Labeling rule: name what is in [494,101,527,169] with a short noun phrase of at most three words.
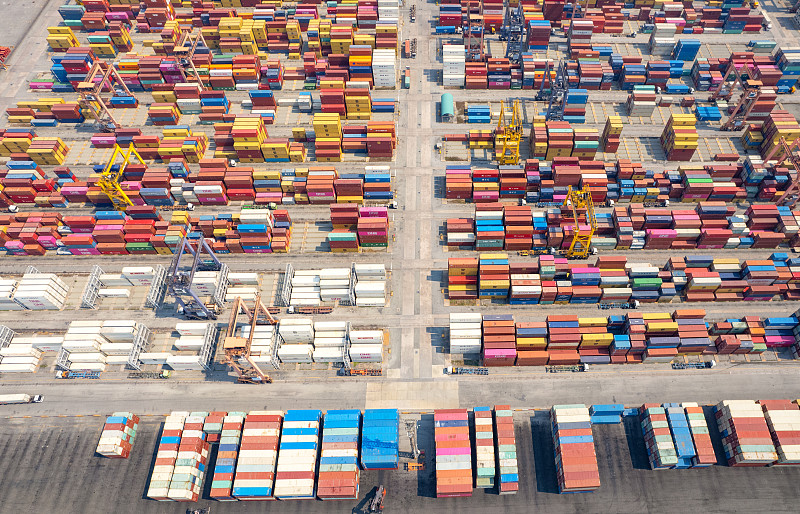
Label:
container crane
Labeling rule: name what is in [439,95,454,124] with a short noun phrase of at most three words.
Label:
shed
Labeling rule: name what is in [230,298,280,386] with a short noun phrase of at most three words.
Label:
container crane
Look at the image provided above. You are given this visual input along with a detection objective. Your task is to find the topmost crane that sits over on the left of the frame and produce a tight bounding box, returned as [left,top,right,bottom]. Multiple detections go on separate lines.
[175,34,209,91]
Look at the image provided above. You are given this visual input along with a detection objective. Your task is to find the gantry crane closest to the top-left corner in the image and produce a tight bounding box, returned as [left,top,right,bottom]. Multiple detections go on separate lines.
[76,66,130,134]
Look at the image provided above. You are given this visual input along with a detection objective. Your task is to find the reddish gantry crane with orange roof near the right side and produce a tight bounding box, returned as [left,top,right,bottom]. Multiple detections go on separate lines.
[706,64,766,129]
